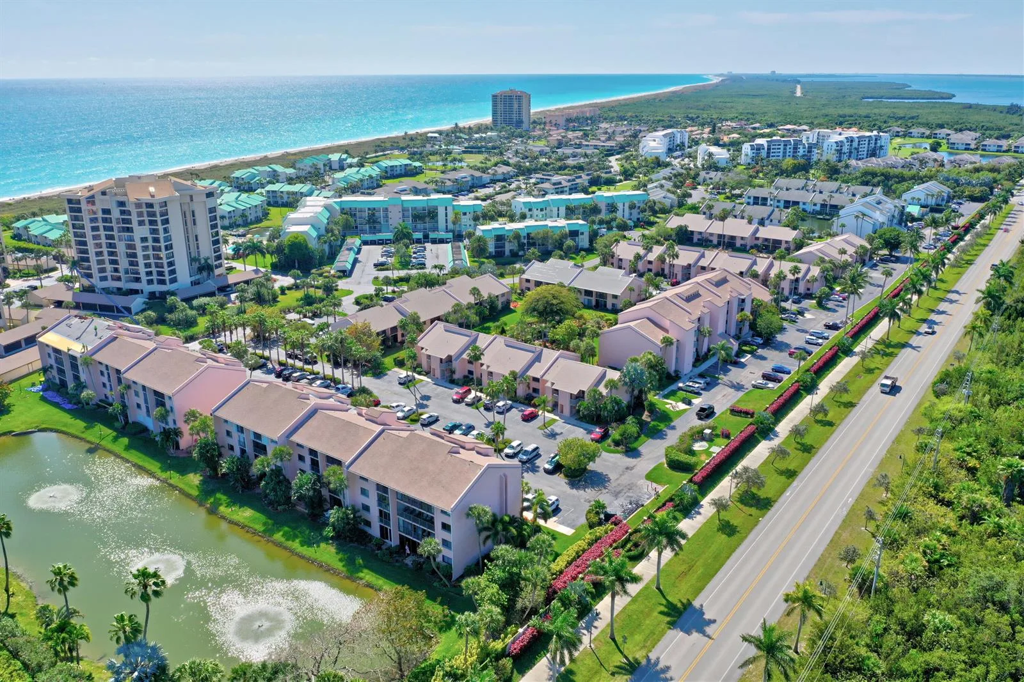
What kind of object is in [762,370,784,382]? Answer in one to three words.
vehicle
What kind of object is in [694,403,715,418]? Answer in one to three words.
vehicle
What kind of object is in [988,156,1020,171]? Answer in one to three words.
house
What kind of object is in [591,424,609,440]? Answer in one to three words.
car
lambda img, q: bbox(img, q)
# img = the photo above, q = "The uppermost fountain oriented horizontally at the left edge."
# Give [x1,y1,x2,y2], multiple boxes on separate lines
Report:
[27,488,88,516]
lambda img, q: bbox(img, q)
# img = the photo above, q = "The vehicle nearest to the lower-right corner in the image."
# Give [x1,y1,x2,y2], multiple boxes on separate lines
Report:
[883,375,901,391]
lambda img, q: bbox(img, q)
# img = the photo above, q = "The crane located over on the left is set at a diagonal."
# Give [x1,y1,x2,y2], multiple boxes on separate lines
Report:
[75,264,152,328]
